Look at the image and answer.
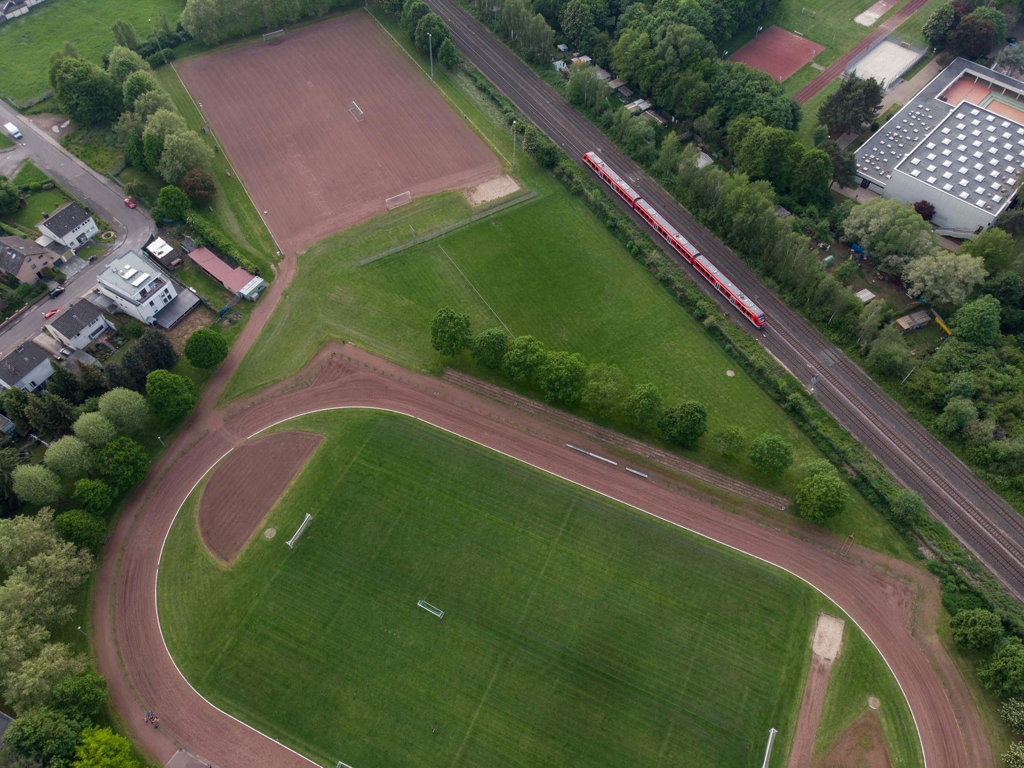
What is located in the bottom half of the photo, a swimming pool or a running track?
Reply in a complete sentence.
Looking in the bottom half of the photo, you will find a running track.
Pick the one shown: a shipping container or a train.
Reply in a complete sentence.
I can see a train in this picture.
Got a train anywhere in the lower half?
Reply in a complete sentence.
No, there is no train in the lower half.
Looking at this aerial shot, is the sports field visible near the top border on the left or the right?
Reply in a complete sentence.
You can find the sports field visible near the top border on the left side of the picture.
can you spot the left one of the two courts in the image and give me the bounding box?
[727,26,825,82]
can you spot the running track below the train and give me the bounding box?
[106,358,980,768]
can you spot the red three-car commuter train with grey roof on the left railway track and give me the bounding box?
[585,150,768,331]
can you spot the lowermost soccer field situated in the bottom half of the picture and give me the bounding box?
[156,407,926,768]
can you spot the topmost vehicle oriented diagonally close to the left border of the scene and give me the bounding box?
[2,124,19,139]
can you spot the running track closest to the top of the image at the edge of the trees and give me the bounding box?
[794,0,930,104]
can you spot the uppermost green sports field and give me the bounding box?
[333,187,911,557]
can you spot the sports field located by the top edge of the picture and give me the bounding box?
[180,14,504,254]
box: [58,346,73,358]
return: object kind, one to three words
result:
vehicle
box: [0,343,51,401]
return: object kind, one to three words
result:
house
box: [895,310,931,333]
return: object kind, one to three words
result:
shed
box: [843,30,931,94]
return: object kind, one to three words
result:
sports court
